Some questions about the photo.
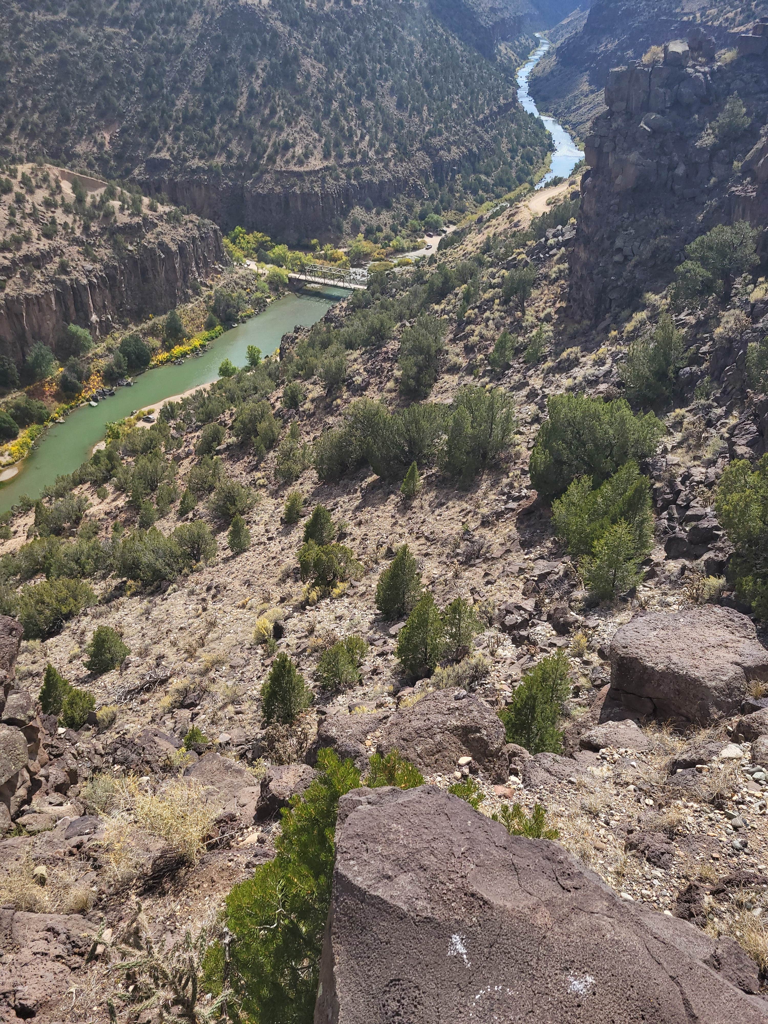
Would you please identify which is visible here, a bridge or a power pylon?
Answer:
bridge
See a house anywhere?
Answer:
No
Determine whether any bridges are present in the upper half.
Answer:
Yes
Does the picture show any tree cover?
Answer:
Yes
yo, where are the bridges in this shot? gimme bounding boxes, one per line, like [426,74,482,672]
[276,263,369,299]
